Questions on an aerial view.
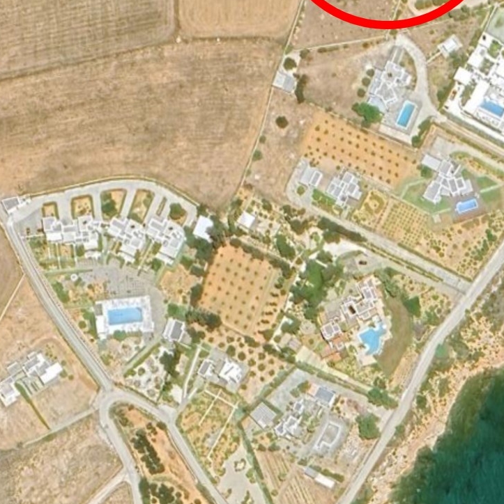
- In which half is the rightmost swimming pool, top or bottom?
top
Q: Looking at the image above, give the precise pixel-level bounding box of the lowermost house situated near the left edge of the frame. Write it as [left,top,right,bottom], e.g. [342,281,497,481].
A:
[0,352,62,407]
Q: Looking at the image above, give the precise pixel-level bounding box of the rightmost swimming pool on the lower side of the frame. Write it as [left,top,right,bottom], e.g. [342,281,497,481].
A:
[357,321,387,356]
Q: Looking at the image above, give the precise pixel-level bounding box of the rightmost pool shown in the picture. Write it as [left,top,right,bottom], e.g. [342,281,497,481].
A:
[480,98,504,119]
